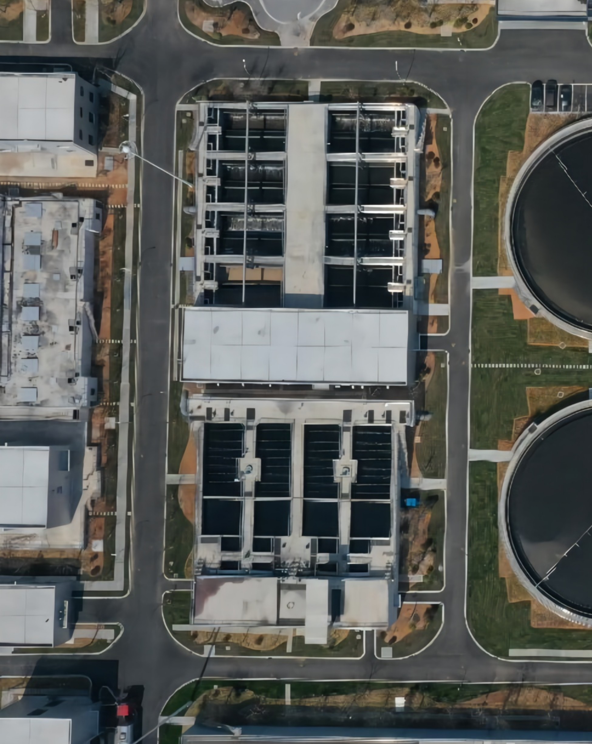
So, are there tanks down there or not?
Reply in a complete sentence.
Yes, the photo shows a tank.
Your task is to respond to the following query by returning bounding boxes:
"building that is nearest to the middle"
[179,306,418,385]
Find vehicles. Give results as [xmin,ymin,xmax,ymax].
[532,82,544,110]
[116,700,140,744]
[559,83,572,113]
[545,81,558,110]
